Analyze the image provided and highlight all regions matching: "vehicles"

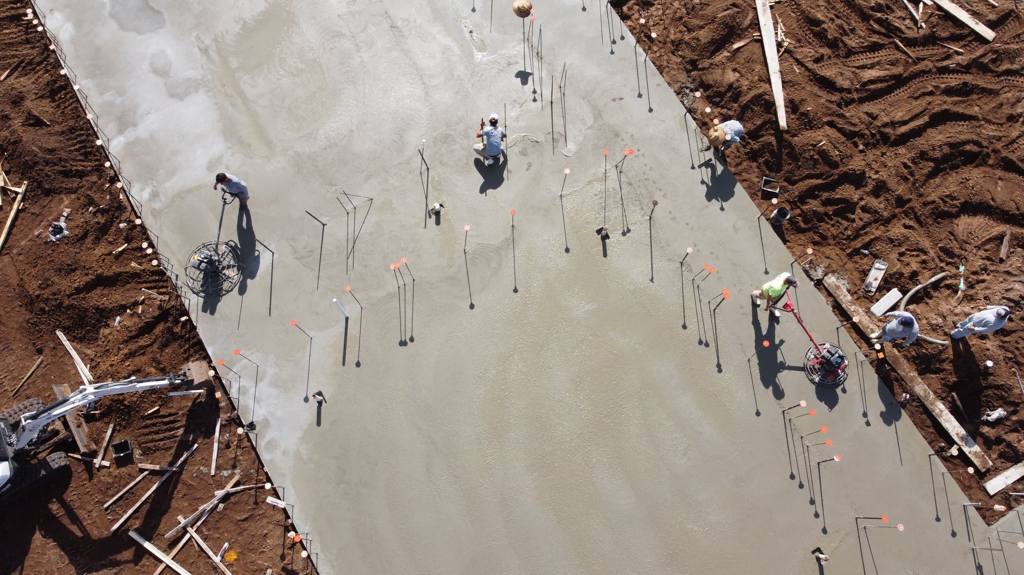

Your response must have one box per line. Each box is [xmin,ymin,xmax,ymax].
[0,358,216,525]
